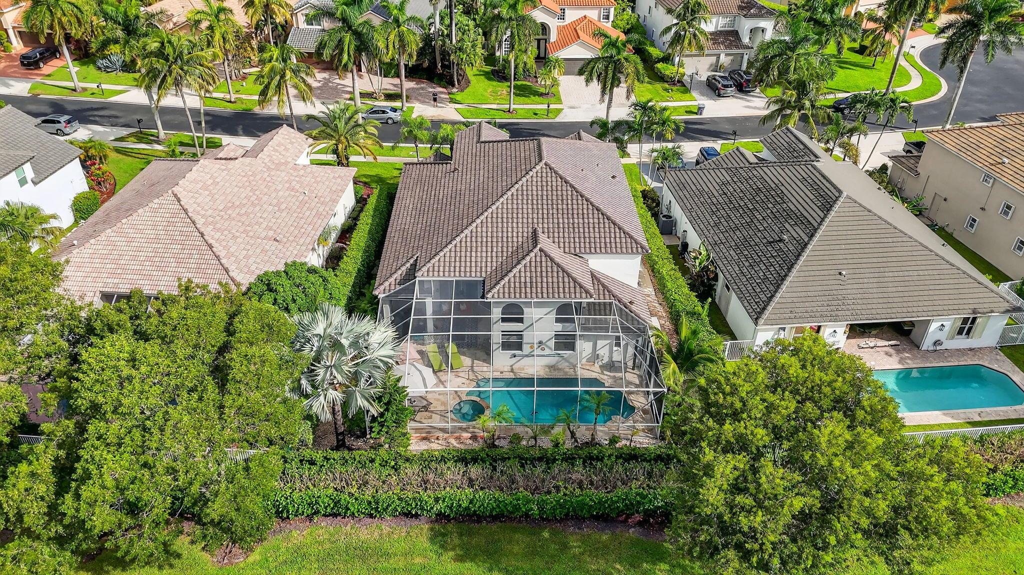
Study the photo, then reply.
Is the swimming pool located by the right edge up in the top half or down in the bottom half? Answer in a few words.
bottom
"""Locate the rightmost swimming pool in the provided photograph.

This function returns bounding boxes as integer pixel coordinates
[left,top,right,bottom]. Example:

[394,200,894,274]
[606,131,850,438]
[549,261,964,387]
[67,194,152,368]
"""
[853,361,1024,419]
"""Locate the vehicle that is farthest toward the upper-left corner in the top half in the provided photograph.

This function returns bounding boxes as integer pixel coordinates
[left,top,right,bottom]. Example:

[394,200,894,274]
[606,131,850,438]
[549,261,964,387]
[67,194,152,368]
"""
[22,46,57,64]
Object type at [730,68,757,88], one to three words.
car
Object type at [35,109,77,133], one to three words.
car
